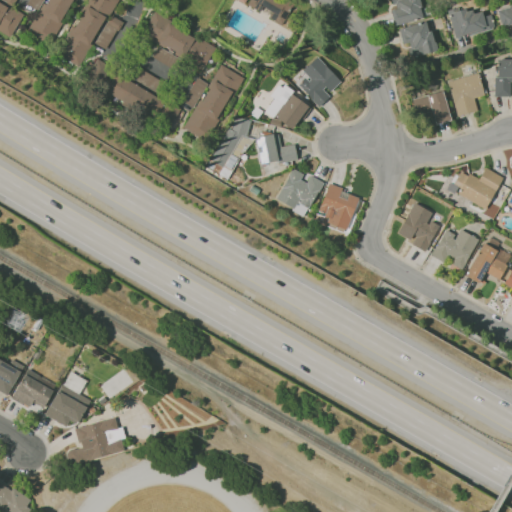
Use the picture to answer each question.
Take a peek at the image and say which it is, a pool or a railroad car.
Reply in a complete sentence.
Of the two, only a pool appears.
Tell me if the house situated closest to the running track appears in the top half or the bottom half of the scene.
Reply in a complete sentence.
It is in the bottom half that the house situated closest to the running track appears.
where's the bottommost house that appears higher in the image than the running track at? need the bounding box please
[69,418,126,462]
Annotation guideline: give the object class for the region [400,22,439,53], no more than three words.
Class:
house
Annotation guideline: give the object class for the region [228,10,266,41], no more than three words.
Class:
swimming pool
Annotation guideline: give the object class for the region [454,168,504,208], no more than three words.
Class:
house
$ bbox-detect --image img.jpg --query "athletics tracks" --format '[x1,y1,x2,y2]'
[78,461,261,512]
